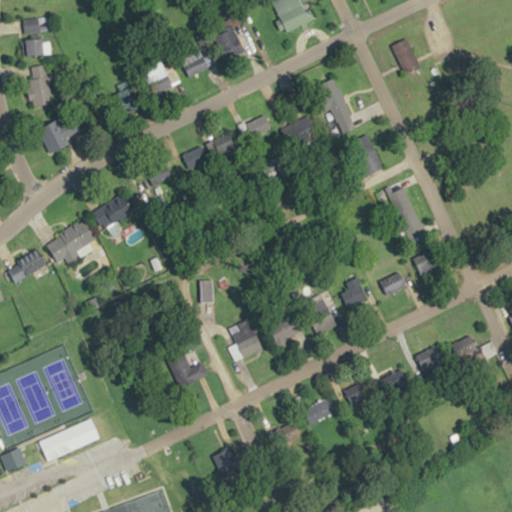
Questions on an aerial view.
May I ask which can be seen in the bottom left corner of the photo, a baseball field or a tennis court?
tennis court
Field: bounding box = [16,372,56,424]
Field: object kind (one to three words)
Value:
tennis court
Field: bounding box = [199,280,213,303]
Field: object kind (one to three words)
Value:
building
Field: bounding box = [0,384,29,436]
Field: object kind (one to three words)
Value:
tennis court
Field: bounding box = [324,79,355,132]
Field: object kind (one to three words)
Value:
house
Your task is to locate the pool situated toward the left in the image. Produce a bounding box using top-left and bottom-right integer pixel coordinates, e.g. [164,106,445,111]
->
[122,228,144,246]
